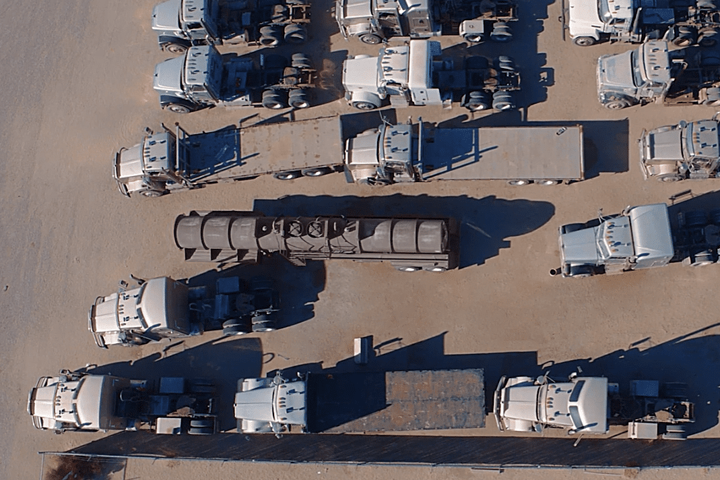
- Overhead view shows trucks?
Yes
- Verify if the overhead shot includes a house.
No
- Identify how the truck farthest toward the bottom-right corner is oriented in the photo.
horizontally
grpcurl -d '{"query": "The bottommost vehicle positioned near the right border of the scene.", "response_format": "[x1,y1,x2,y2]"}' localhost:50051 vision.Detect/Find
[492,366,698,442]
